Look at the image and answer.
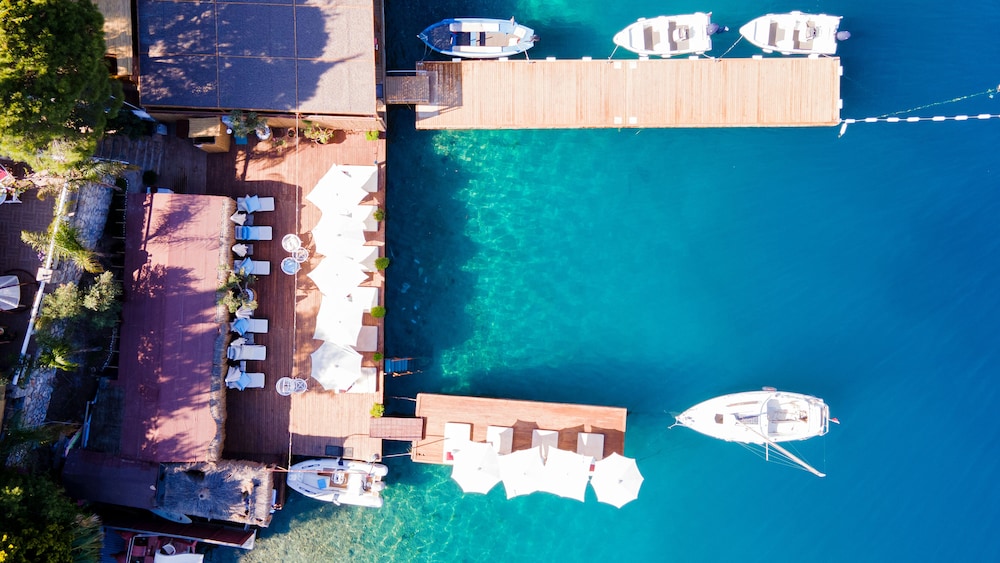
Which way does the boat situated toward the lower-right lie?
horizontally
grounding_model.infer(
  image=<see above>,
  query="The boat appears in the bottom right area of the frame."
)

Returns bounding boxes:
[669,387,846,473]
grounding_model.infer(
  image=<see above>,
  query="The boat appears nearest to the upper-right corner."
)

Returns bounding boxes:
[737,13,850,58]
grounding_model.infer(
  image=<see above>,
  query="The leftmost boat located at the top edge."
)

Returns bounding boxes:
[417,17,540,58]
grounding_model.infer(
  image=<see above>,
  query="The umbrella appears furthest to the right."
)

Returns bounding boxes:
[589,451,645,506]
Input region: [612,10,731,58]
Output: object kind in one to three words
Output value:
boat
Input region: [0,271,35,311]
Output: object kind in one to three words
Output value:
umbrella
